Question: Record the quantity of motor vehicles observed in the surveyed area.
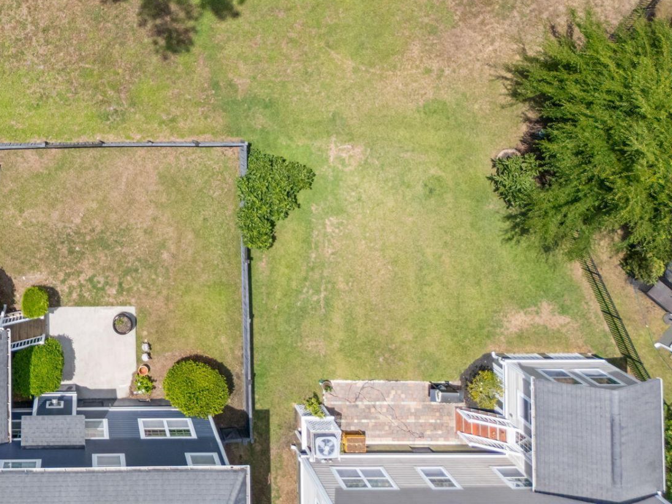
0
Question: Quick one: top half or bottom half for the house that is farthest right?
bottom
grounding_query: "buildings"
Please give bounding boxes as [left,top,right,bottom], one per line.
[285,343,672,504]
[0,312,250,504]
